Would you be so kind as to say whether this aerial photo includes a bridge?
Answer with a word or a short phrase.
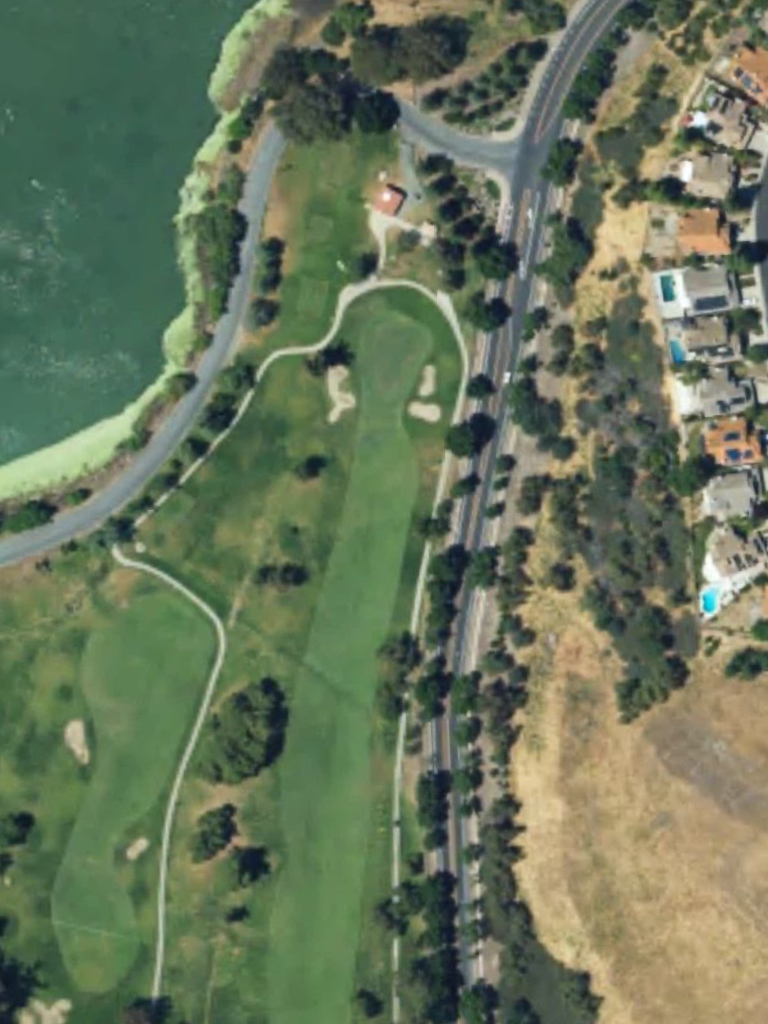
No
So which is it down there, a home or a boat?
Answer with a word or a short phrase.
home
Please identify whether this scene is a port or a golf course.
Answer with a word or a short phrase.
golf course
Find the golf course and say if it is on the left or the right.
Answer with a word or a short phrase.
left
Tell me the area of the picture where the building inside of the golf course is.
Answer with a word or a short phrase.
top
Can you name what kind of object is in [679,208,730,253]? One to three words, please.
house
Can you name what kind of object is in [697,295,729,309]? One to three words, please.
solar panel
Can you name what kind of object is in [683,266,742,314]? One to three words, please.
house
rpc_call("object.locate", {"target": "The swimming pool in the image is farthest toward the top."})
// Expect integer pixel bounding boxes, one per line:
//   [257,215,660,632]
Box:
[660,273,676,302]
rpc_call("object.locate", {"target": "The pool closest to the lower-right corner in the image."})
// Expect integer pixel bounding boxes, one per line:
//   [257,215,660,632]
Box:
[701,586,718,613]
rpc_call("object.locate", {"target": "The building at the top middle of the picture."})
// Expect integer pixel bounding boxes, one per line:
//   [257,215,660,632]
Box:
[371,182,404,216]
